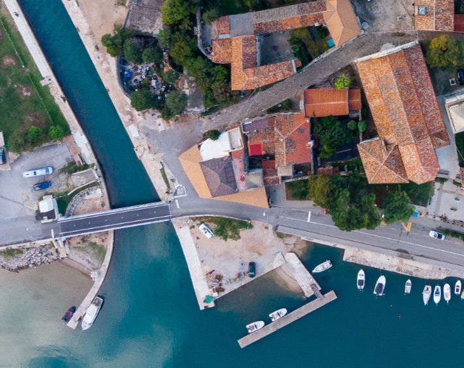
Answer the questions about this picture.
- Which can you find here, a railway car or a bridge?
bridge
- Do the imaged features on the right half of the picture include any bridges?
No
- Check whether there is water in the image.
Yes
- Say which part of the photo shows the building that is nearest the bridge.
left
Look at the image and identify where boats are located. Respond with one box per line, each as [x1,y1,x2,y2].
[455,281,461,296]
[405,280,411,295]
[313,259,333,272]
[246,321,264,334]
[63,304,78,322]
[373,275,385,297]
[357,269,364,291]
[84,296,104,329]
[435,285,441,304]
[423,284,432,305]
[268,308,287,322]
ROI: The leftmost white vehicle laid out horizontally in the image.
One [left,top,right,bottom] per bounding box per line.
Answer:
[19,167,53,179]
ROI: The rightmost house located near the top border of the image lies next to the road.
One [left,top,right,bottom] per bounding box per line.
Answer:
[415,0,464,32]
